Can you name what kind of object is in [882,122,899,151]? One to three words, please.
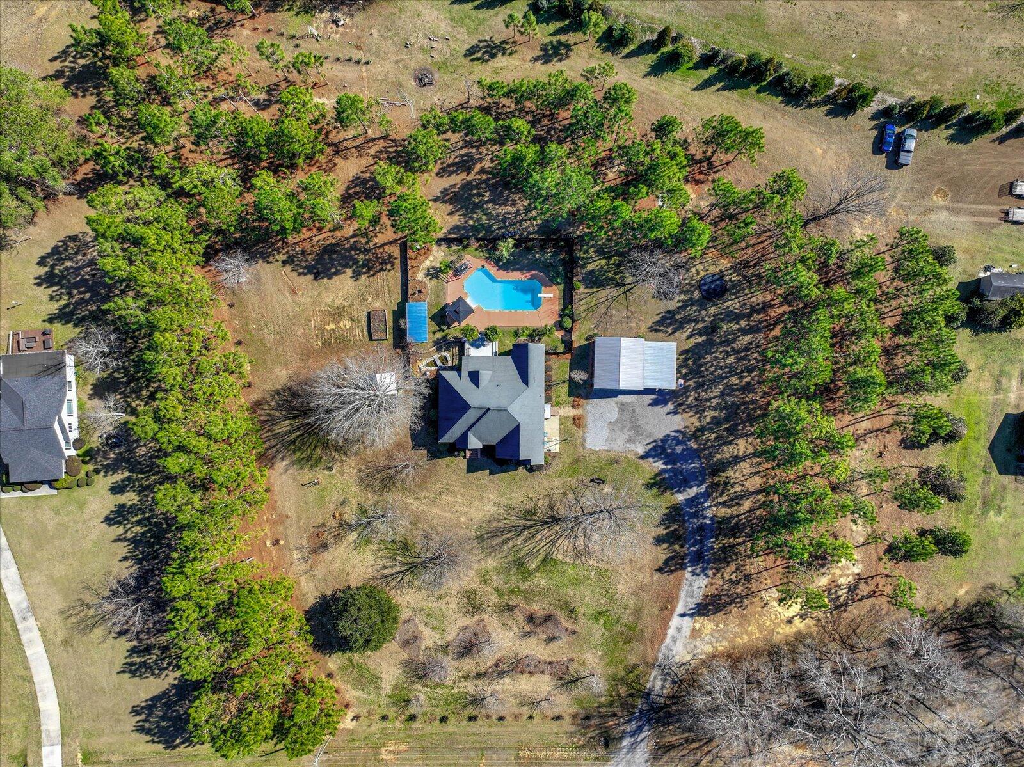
car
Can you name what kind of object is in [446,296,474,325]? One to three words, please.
gazebo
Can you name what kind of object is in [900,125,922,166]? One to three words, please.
truck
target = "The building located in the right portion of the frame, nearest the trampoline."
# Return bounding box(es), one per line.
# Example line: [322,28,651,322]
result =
[593,337,677,389]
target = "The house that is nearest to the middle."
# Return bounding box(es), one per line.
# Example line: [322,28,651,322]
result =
[438,337,551,466]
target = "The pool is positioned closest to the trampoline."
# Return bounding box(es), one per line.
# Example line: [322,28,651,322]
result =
[462,265,544,312]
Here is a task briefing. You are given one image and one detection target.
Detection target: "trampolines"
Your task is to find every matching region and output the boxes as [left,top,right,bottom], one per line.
[699,272,728,300]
